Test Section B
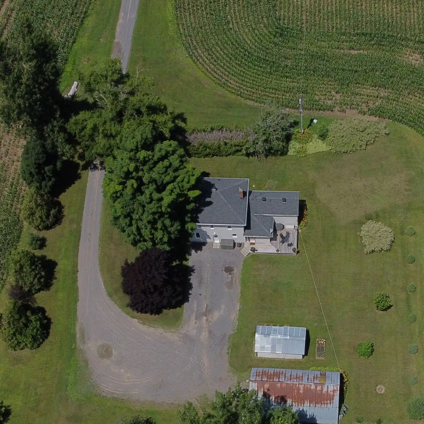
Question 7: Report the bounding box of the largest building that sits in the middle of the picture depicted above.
[183,176,298,242]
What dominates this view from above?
grass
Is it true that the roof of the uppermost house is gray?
Yes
